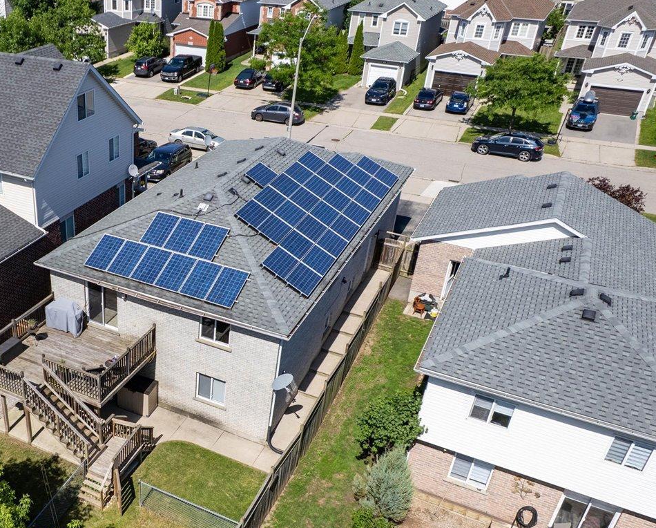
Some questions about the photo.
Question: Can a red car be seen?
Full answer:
No, the frame has no red car in it.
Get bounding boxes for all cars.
[133,53,167,76]
[230,68,262,89]
[251,100,305,125]
[257,69,295,92]
[473,131,547,164]
[571,98,603,130]
[411,86,447,110]
[166,126,220,150]
[133,138,169,163]
[366,75,397,103]
[443,92,476,114]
